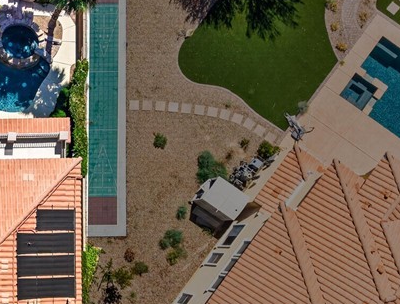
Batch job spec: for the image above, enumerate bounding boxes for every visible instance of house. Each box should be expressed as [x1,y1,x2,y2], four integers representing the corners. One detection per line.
[0,116,84,304]
[174,144,400,304]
